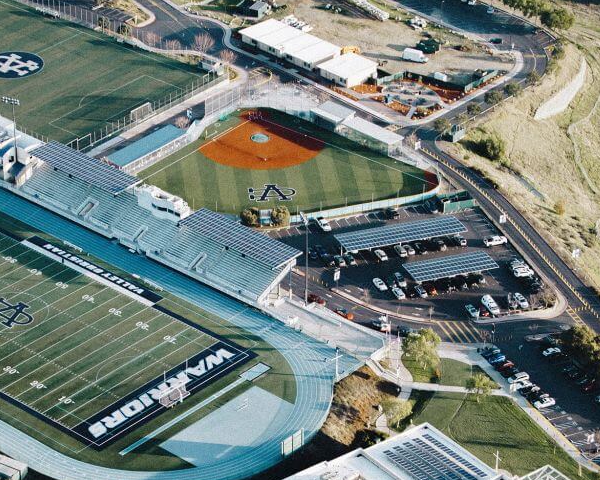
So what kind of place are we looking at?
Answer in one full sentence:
This image shows a sports ground.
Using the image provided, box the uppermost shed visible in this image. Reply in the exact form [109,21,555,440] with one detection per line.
[247,0,272,19]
